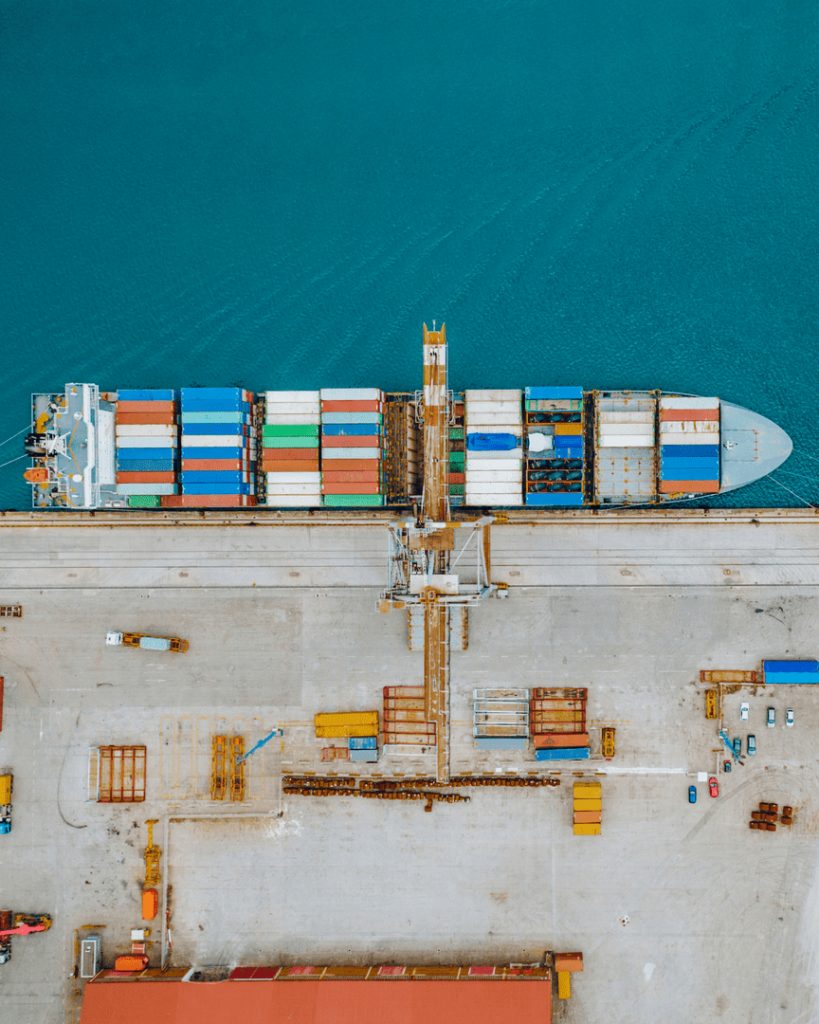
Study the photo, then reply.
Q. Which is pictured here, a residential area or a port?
port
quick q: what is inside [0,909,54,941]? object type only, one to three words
work vehicle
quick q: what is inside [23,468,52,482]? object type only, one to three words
boat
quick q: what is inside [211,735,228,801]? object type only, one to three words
trailer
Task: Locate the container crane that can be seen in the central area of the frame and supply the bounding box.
[375,320,508,783]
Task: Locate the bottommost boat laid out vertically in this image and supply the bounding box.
[145,884,158,919]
